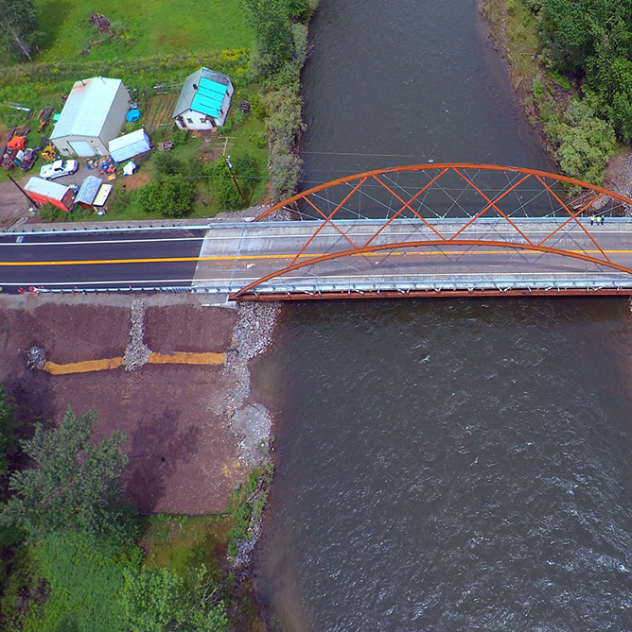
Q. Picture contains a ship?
No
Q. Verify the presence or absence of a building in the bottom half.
No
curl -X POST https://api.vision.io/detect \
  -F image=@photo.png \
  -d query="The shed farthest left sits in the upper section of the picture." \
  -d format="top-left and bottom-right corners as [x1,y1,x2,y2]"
[23,172,79,210]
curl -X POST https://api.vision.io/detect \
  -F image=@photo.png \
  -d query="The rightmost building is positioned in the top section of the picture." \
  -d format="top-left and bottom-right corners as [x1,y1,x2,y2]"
[169,73,226,132]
